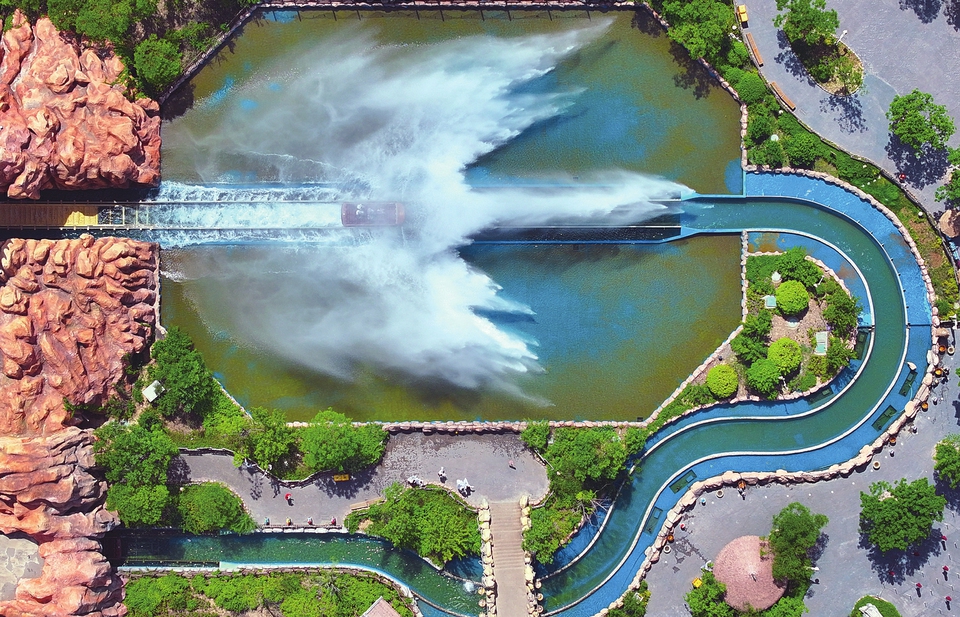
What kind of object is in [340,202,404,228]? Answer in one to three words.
boat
